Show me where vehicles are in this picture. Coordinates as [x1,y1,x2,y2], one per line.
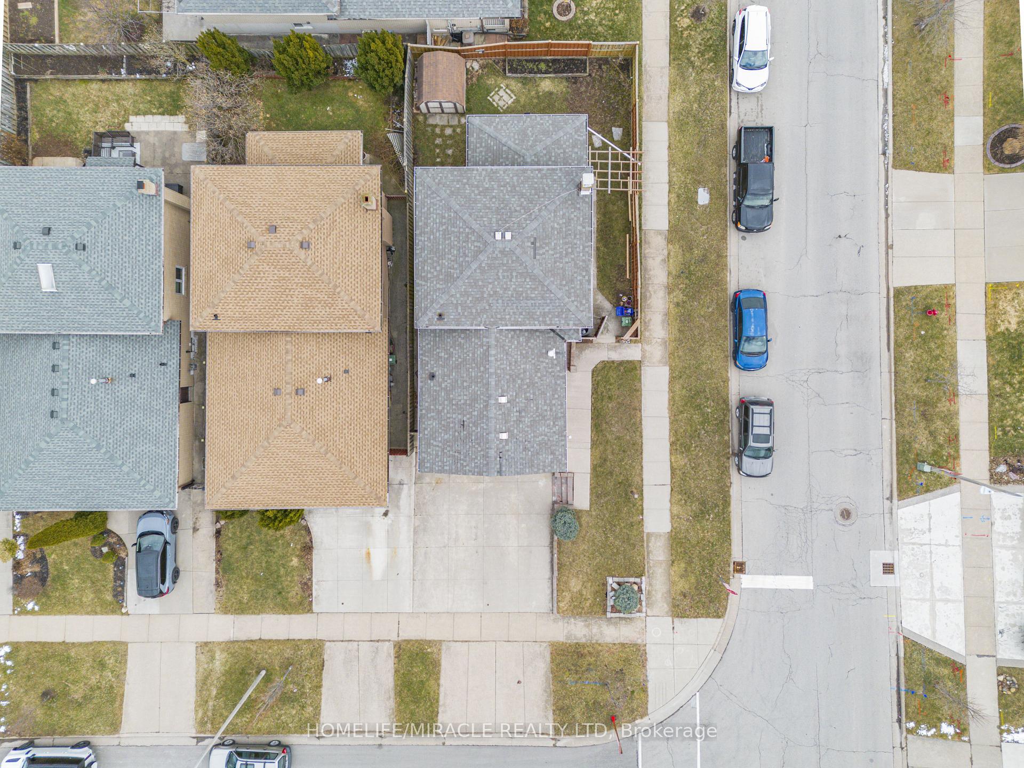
[129,513,178,599]
[730,4,775,94]
[729,286,771,371]
[731,395,775,479]
[730,126,775,232]
[209,739,294,768]
[0,741,99,768]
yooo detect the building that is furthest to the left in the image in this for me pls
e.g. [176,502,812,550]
[0,156,197,513]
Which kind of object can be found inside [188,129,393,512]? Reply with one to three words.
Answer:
house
